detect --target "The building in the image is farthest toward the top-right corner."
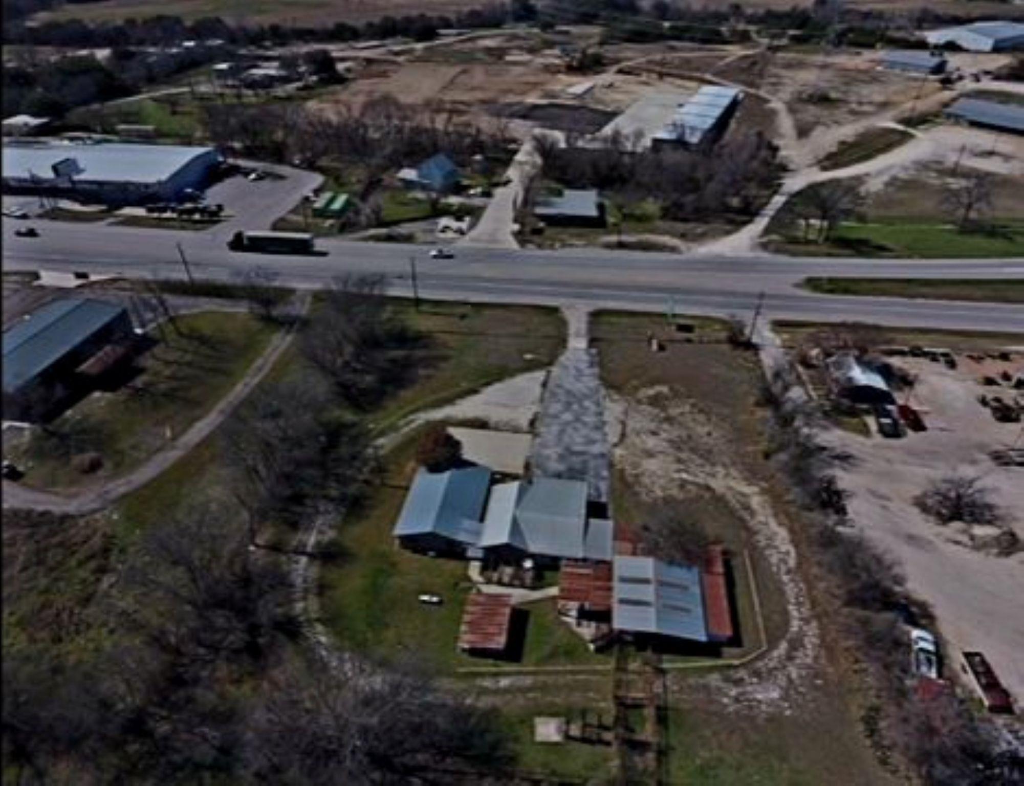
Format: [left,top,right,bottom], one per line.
[927,19,1024,51]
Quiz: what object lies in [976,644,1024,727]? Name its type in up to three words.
trailer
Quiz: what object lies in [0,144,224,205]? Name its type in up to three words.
building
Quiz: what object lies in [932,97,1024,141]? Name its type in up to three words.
barn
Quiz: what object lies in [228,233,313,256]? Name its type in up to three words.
truck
